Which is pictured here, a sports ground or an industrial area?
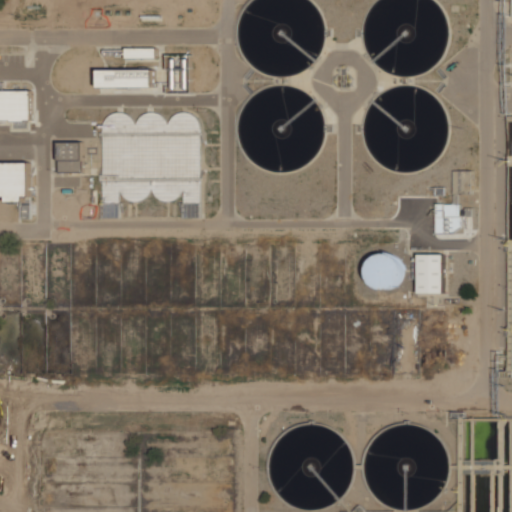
industrial area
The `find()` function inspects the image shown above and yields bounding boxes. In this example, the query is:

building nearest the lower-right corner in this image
[415,254,444,294]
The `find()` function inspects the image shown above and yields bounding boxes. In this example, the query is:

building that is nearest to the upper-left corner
[0,90,32,128]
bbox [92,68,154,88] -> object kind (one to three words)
building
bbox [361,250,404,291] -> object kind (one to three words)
storage tank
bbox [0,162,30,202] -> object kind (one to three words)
building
